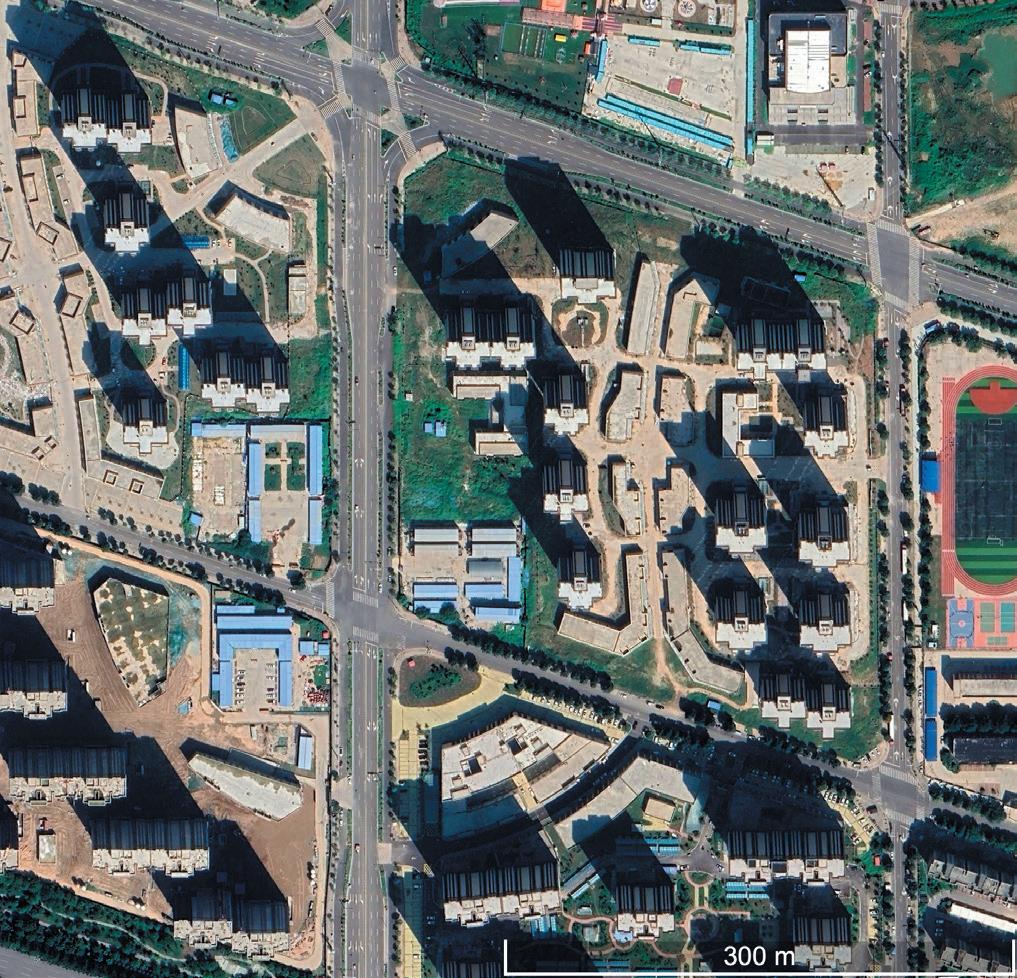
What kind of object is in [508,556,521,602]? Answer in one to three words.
shed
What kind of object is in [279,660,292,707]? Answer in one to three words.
shed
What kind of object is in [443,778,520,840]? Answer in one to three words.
building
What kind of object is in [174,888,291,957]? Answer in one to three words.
building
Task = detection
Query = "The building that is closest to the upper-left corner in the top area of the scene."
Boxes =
[13,50,40,136]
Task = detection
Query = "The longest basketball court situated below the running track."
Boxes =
[949,600,972,647]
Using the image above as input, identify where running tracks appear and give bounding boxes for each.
[943,364,1017,598]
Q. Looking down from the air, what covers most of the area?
paved ground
